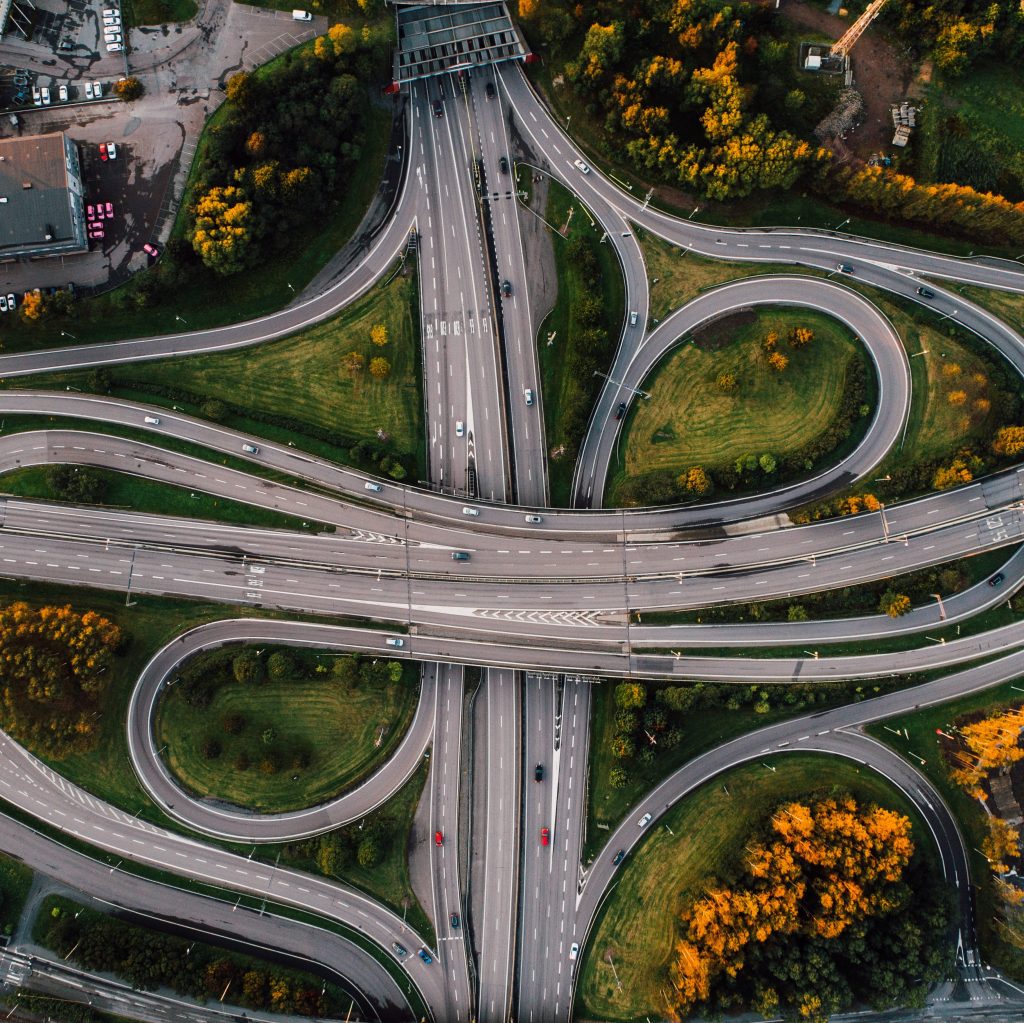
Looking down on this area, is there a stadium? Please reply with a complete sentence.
No, I find no stadium anywhere in the image.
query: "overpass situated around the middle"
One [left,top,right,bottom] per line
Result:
[404,484,634,678]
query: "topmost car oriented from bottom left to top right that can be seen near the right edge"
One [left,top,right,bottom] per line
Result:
[987,573,1004,586]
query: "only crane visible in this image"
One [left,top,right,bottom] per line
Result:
[834,0,892,66]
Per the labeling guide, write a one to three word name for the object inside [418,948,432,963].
car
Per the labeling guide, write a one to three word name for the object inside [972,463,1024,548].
bridge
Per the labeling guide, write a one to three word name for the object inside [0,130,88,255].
building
